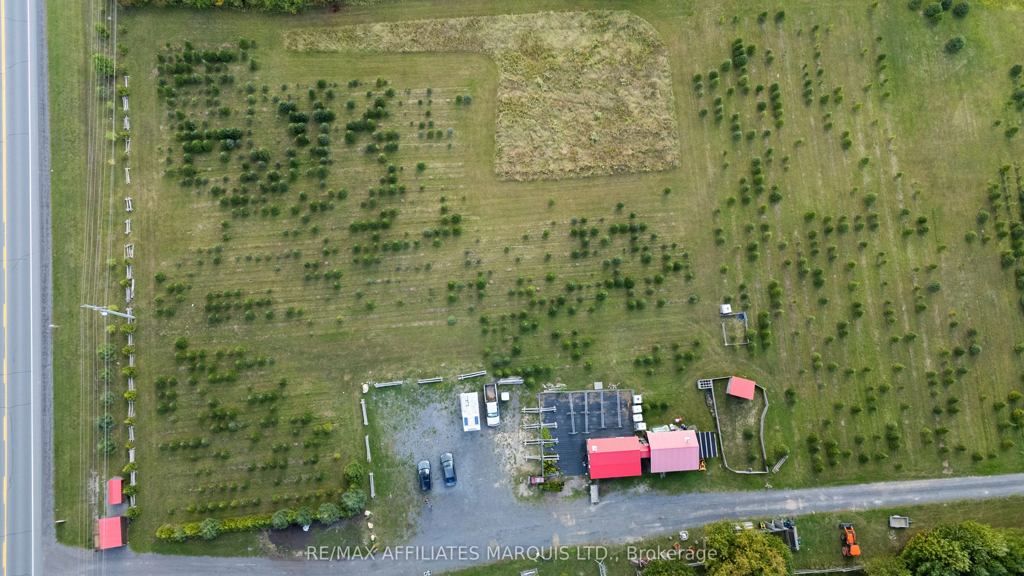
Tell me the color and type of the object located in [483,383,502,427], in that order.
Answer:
white vehicle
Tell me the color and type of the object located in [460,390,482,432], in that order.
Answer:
white trailer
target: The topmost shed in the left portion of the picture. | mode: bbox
[109,478,132,505]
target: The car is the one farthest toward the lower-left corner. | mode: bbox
[416,460,434,491]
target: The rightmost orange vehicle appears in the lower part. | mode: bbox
[842,524,863,558]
